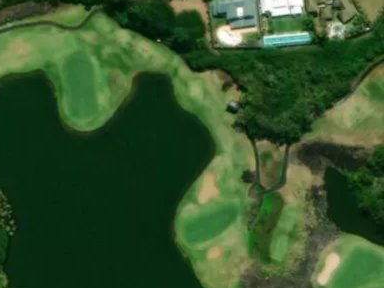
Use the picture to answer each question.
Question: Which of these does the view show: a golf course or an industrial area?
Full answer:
This looks like a golf course.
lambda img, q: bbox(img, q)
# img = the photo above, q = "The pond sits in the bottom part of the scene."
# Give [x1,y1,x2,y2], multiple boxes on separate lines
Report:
[325,163,384,246]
